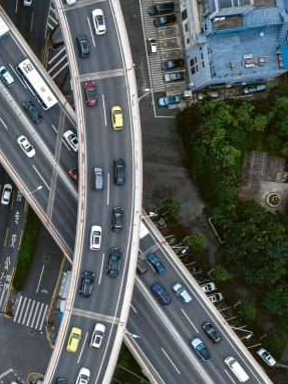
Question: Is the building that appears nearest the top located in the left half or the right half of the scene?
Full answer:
You can find the building that appears nearest the top on the right side of the picture.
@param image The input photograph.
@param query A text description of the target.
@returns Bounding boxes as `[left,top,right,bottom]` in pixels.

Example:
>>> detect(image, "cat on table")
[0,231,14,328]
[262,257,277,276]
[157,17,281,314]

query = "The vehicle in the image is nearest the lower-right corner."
[255,347,276,366]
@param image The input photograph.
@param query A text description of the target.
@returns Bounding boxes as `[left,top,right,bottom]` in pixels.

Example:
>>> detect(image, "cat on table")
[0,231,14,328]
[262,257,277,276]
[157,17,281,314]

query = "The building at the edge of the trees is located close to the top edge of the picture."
[178,0,288,89]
